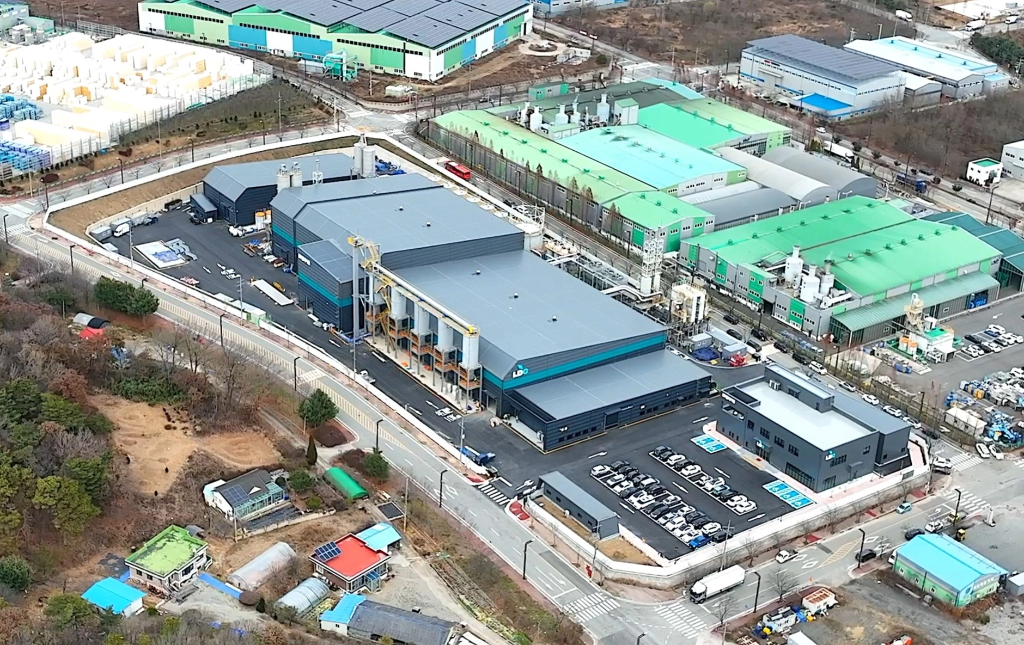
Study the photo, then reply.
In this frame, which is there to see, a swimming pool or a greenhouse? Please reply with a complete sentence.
There is a greenhouse in the scene.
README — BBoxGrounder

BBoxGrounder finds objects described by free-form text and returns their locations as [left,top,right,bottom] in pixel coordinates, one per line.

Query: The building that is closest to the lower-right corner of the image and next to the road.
[894,536,1002,613]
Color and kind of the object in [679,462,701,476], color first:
white car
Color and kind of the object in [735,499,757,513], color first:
white car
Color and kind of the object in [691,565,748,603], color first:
white truck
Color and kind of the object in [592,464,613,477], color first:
white vehicle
